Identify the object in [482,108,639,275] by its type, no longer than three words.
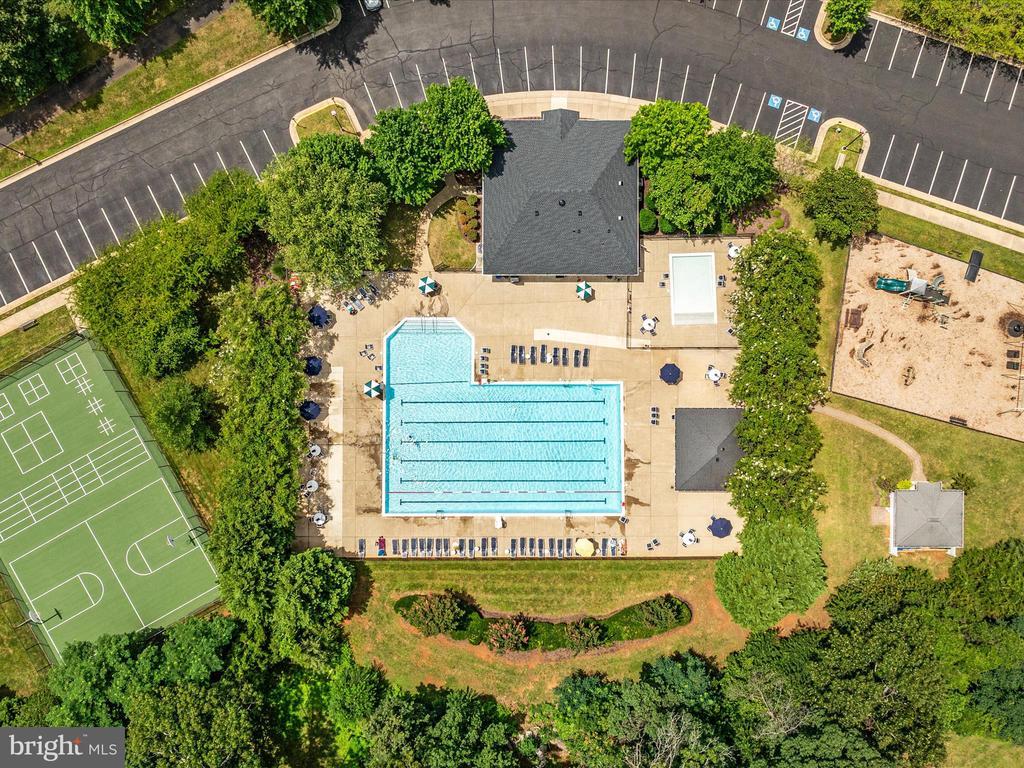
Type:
building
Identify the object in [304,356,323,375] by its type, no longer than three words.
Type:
umbrella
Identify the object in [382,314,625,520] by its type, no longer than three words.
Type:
swimming pool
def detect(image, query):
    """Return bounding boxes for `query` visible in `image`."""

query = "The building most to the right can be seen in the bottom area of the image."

[885,482,964,554]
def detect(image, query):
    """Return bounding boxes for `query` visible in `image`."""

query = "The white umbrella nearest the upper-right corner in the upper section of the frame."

[575,281,593,300]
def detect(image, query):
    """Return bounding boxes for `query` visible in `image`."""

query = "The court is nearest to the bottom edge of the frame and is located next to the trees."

[0,331,228,680]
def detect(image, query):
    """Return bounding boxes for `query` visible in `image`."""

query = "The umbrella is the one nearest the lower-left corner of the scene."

[300,400,321,420]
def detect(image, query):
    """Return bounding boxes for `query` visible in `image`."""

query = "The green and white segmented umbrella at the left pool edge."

[363,381,381,397]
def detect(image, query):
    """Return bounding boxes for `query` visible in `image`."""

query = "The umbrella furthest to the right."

[708,515,732,539]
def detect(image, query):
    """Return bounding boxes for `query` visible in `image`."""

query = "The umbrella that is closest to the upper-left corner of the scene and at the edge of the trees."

[307,305,330,328]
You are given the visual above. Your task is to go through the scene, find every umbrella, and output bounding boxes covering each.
[304,356,323,375]
[300,400,321,420]
[708,515,732,539]
[659,363,680,384]
[574,537,594,558]
[307,305,330,328]
[575,281,593,300]
[418,277,438,295]
[363,381,381,397]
